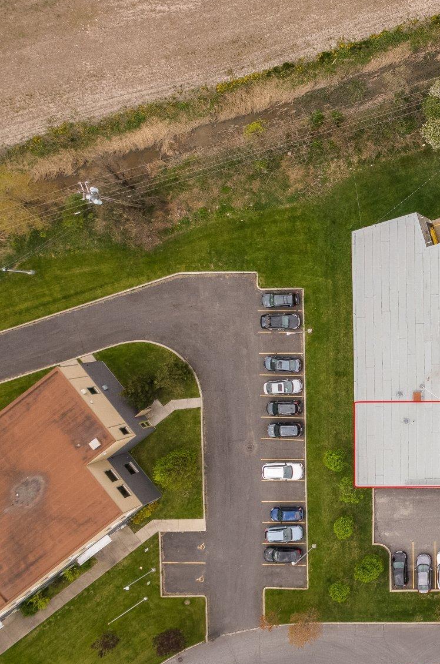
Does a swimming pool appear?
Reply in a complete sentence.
No, there's no swimming pool here.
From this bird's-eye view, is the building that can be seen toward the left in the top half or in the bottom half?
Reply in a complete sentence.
You can find the building that can be seen toward the left in the bottom half.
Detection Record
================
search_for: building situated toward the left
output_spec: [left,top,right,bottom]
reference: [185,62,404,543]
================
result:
[0,364,158,619]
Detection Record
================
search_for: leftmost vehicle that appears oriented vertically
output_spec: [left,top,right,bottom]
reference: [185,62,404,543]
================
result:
[391,550,409,587]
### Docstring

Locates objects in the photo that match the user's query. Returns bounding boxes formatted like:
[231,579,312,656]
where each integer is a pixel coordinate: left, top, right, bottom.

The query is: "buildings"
[352,213,440,488]
[0,364,158,619]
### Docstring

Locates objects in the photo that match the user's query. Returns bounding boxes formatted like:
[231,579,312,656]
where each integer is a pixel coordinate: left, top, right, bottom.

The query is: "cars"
[267,399,302,417]
[260,462,304,482]
[391,550,409,587]
[271,505,304,523]
[264,356,302,373]
[260,312,301,331]
[265,526,304,543]
[264,378,303,396]
[268,422,303,439]
[415,554,432,593]
[434,549,440,591]
[261,291,300,309]
[265,546,302,564]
